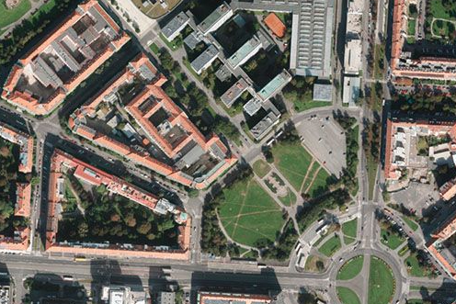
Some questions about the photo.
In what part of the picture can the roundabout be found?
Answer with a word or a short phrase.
bottom right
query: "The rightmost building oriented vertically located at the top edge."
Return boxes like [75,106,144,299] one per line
[388,0,410,72]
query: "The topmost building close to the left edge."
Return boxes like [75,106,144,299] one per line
[5,0,133,116]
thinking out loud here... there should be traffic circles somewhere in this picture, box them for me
[330,248,403,304]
